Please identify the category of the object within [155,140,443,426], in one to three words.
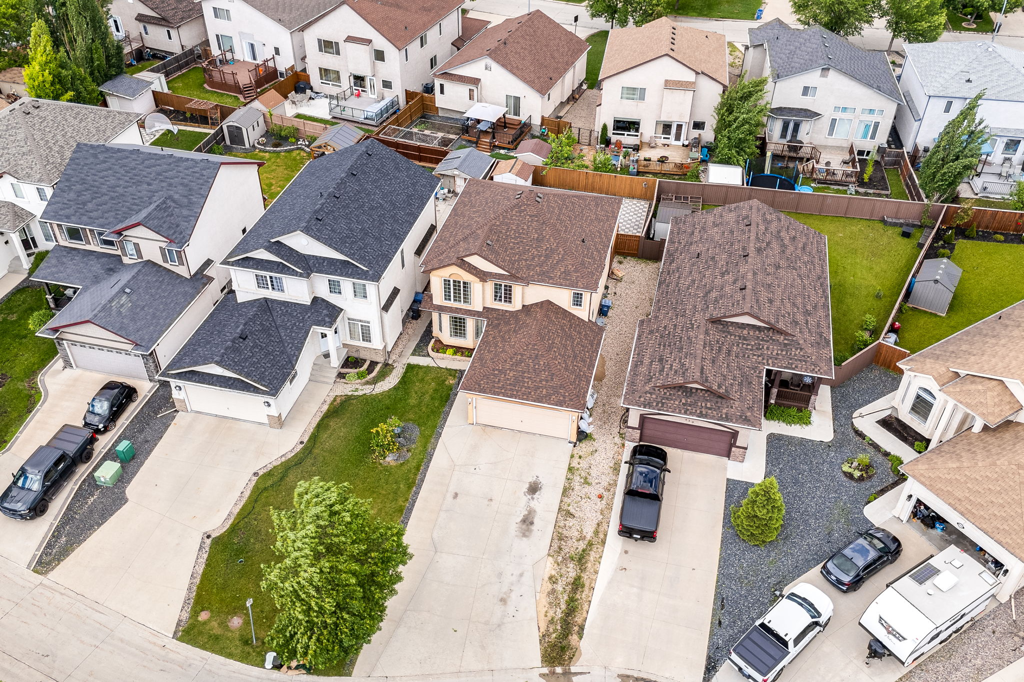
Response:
house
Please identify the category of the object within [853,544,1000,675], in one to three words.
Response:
trailer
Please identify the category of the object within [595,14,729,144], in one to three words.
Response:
house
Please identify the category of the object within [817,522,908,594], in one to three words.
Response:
car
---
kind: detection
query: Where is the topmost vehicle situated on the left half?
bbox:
[76,375,139,433]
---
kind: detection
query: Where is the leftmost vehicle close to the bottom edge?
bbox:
[723,577,841,682]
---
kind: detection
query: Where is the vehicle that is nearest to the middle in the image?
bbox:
[616,441,673,543]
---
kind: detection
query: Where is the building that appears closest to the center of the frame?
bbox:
[416,177,625,445]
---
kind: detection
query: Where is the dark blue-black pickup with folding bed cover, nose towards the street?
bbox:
[0,425,94,528]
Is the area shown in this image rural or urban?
urban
